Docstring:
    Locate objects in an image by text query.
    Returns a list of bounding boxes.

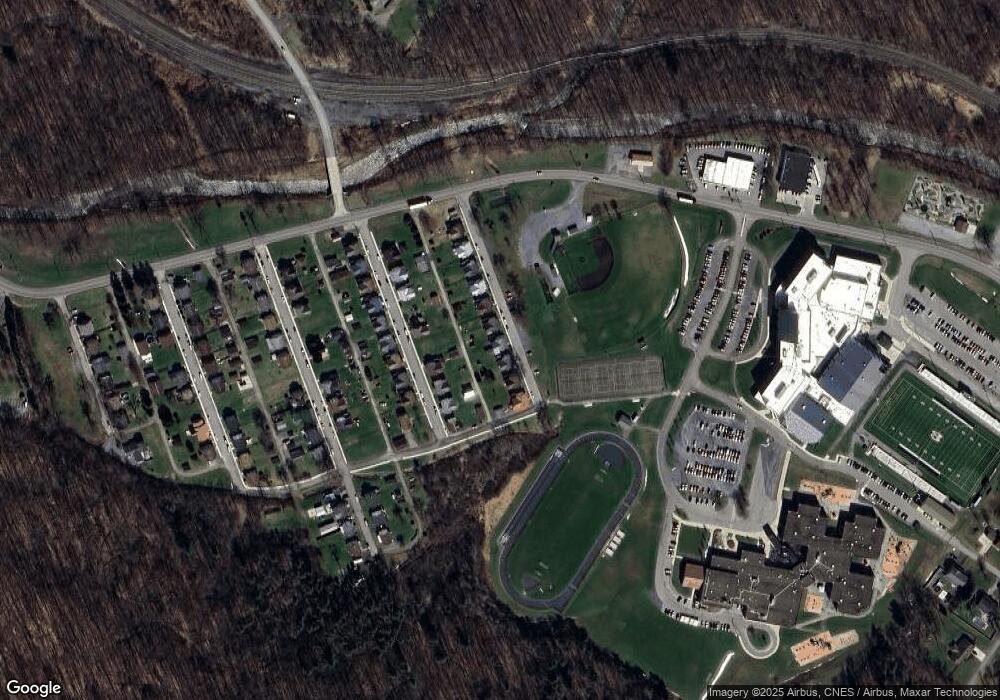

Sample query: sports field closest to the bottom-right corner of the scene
[858,364,1000,513]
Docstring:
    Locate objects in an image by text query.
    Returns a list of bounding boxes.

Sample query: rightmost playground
[883,537,913,579]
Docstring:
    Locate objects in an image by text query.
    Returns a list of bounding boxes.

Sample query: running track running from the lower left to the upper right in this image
[494,429,642,615]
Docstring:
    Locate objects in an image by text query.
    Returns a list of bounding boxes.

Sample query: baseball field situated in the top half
[554,226,632,303]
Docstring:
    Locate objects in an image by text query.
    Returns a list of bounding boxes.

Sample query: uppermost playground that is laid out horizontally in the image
[800,481,857,503]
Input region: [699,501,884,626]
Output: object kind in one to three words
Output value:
building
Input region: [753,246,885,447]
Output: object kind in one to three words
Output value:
building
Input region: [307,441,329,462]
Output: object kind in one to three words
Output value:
house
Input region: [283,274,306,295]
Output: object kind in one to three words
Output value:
house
